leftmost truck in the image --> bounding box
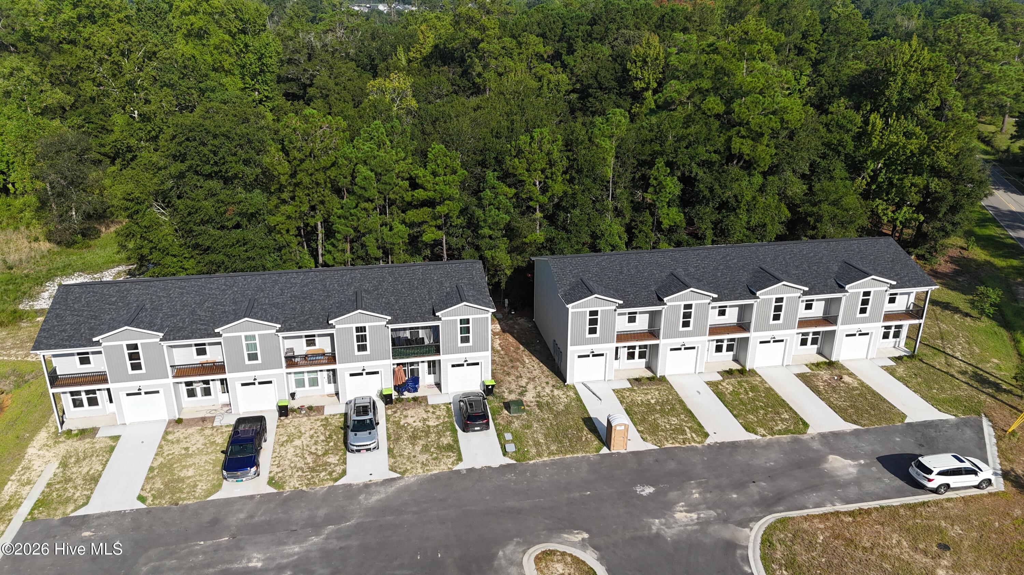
[222,416,267,484]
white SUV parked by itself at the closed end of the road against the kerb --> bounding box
[908,453,997,494]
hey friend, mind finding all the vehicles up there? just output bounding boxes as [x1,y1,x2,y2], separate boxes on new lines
[908,453,997,494]
[346,400,381,454]
[222,416,267,484]
[458,393,489,433]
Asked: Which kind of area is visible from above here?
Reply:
residential area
